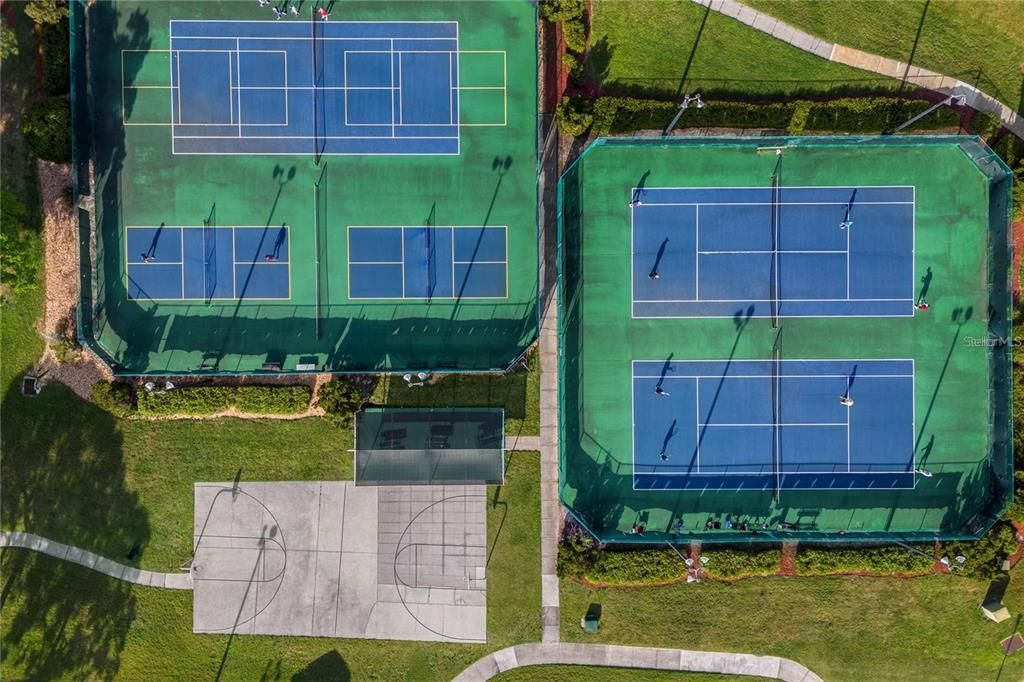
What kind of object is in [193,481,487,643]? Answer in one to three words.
basketball court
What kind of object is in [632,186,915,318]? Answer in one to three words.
tennis court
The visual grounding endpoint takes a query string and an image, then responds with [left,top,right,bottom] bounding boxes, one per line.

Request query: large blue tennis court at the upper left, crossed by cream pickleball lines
[122,21,506,154]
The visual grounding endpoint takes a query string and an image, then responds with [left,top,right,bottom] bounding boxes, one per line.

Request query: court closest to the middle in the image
[347,226,508,299]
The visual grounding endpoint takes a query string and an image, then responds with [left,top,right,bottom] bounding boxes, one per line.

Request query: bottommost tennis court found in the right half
[632,359,915,490]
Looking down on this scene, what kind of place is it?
sports ground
